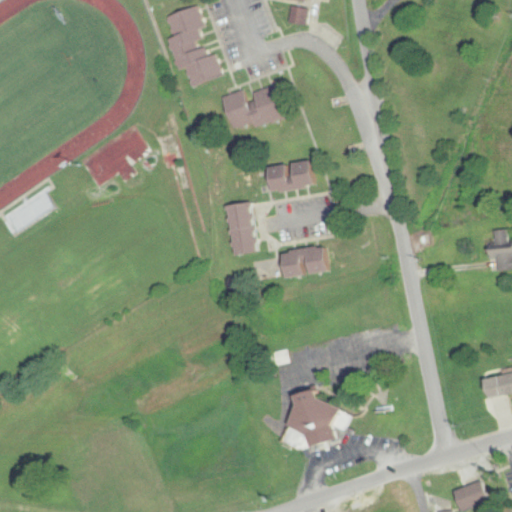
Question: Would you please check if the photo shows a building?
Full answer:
Yes, I can see a building in this picture.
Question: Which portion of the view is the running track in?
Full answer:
Look in the top left portion of the view to spot the running track.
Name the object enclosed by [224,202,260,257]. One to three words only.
building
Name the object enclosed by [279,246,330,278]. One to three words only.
building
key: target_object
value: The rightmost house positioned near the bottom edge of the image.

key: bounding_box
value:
[454,481,484,512]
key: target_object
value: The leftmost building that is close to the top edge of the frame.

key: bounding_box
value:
[168,6,228,88]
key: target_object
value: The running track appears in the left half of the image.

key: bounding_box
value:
[0,0,146,210]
